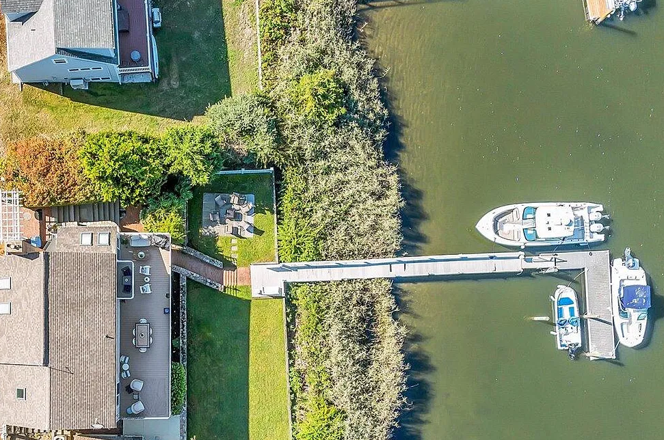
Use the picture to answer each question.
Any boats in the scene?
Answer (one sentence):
Yes, there's a boat here.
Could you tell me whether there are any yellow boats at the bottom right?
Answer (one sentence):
No, the scene shows no yellow boat at the bottom right.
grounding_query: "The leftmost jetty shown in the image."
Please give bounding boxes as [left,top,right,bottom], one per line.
[249,249,536,297]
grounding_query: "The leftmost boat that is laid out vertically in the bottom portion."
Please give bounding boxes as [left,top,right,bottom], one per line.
[548,287,581,360]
